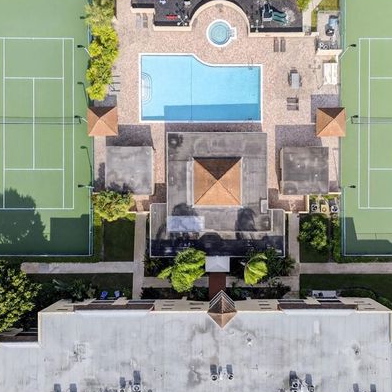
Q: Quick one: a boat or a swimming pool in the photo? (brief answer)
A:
swimming pool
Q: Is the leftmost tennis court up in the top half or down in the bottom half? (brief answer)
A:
top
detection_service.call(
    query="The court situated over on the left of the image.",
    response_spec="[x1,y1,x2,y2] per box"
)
[0,0,94,255]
